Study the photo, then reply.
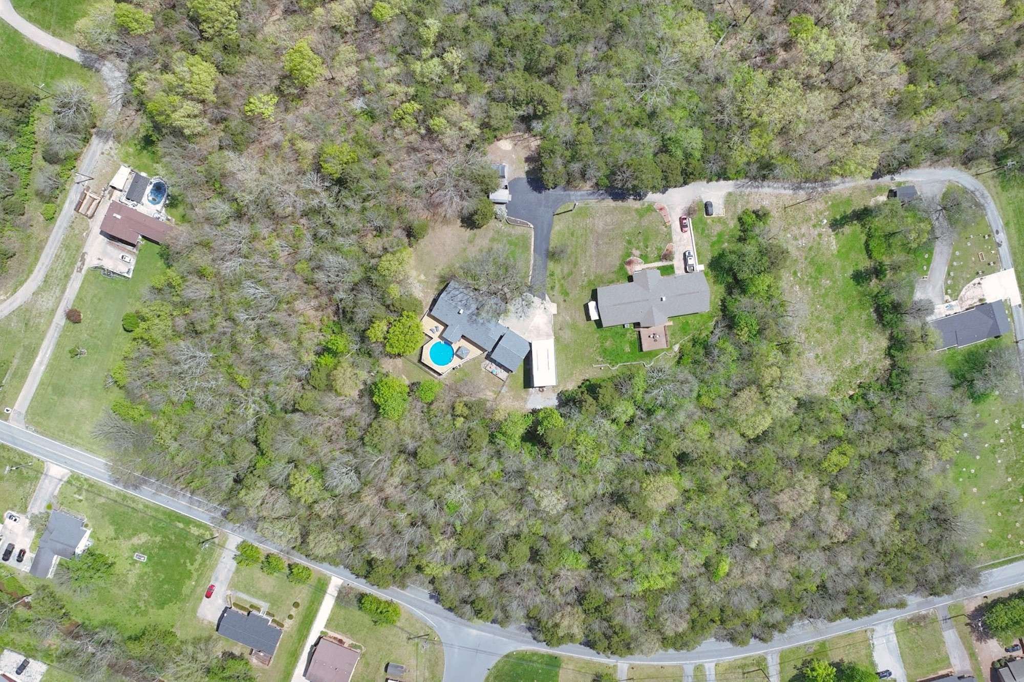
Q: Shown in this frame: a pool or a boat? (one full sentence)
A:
The image shows a pool.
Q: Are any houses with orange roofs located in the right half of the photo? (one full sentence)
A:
No, there's no house with an orange roof to be seen in the right half of the photo.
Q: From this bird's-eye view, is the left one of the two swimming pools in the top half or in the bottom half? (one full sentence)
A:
It is in the top half that the left one of the two swimming pools appears.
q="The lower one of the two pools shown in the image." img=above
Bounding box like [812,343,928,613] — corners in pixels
[429,340,454,366]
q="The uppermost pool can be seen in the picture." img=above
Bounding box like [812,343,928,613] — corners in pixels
[146,178,169,205]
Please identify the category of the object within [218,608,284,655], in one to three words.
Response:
house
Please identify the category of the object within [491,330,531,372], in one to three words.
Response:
building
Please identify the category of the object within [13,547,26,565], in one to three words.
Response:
vehicle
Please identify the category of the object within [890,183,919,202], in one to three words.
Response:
shed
